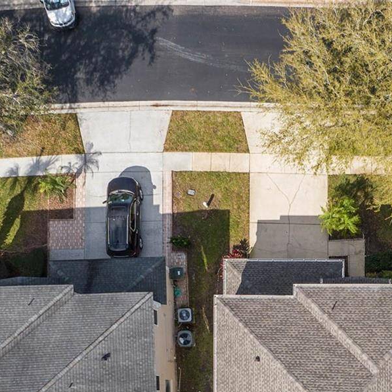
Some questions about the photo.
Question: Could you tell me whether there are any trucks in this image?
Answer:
No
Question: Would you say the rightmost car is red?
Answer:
No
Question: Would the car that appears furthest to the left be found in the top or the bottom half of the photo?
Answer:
top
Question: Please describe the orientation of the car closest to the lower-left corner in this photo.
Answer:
up and down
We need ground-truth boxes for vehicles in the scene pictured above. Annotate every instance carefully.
[34,0,77,32]
[101,171,144,254]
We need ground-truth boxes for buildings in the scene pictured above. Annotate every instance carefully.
[213,258,392,392]
[0,257,177,392]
